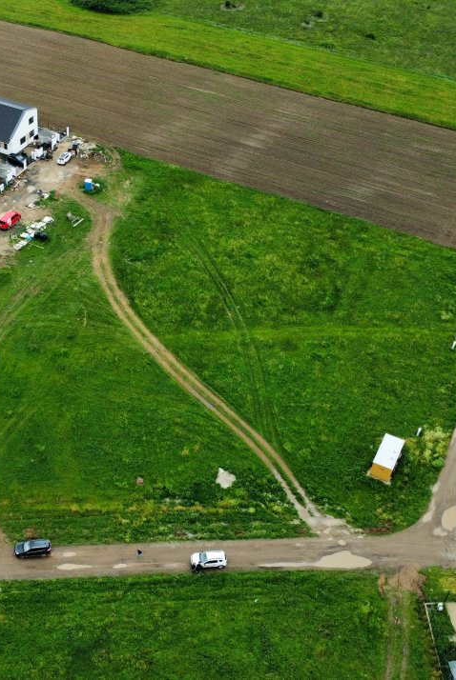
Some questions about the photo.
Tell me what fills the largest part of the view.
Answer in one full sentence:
Most of the picture is covered by grass.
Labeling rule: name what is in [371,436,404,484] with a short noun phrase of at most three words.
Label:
building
